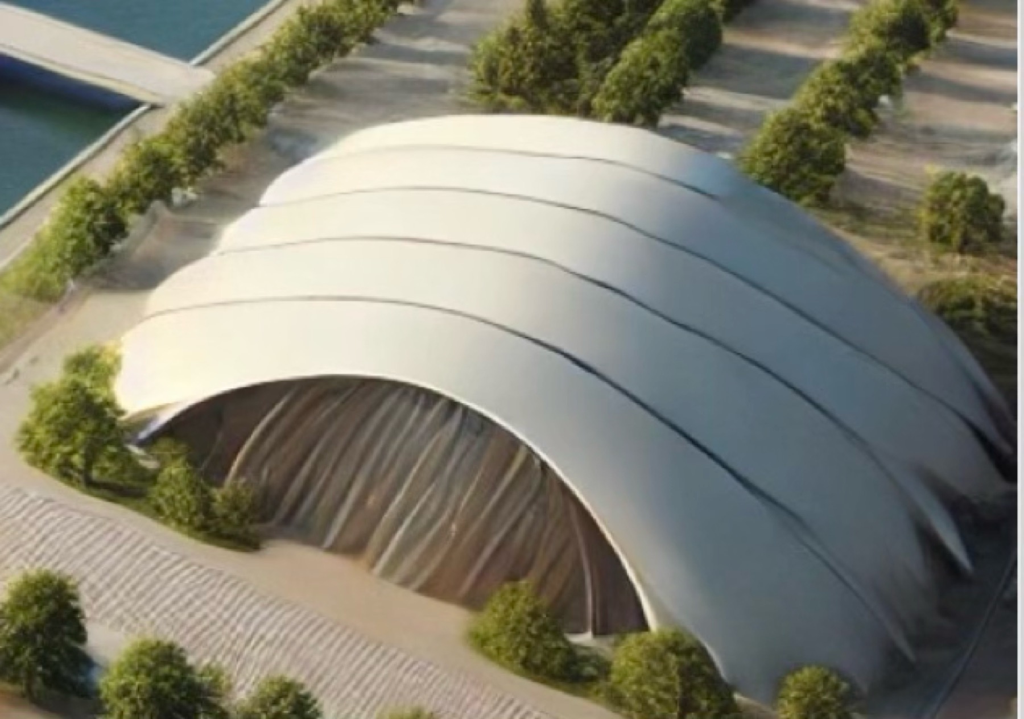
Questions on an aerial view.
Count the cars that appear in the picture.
0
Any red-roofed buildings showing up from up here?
No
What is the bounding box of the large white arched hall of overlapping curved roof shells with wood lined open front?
[112,114,1009,678]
